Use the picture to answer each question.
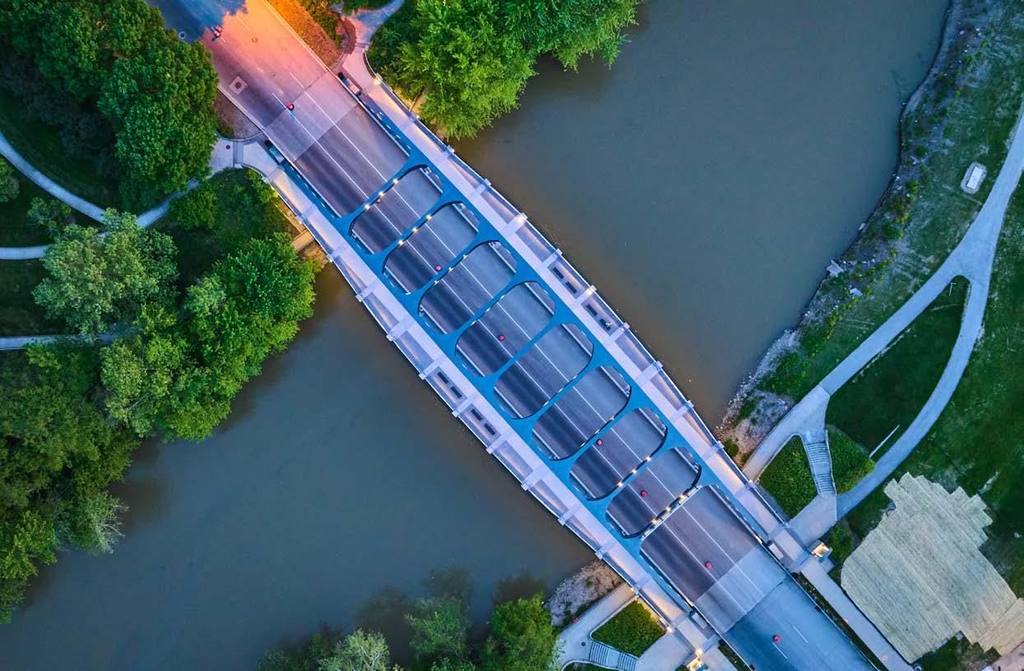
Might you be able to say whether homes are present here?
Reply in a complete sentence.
No, there is no home in the image.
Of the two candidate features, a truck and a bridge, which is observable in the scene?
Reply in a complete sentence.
I can see a bridge in this picture.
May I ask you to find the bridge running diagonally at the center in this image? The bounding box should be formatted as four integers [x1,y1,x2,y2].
[257,62,795,642]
